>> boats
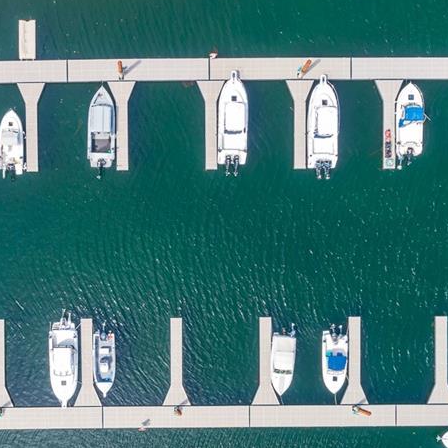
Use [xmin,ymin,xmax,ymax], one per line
[321,316,349,395]
[0,109,24,183]
[47,310,79,407]
[396,82,437,169]
[270,319,297,397]
[93,320,115,394]
[217,71,248,177]
[88,85,116,178]
[307,74,339,183]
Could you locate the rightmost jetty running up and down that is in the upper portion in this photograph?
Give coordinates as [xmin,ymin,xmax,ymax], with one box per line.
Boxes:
[374,80,403,170]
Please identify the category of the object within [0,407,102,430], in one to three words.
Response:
pier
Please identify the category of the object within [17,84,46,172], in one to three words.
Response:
pier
